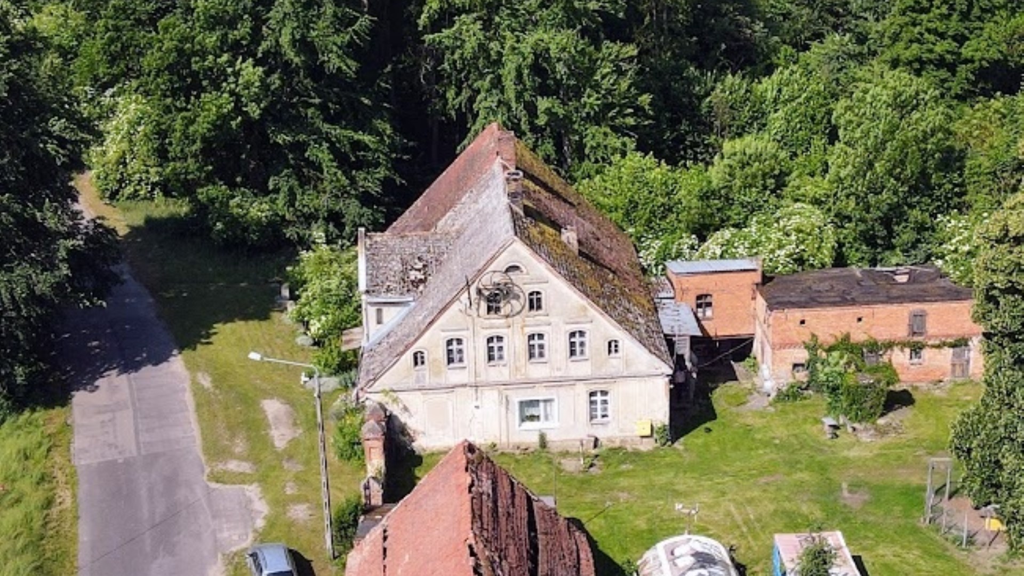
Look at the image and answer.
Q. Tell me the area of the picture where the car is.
bottom left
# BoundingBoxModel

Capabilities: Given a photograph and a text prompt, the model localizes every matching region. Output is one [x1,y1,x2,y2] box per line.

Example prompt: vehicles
[242,543,299,576]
